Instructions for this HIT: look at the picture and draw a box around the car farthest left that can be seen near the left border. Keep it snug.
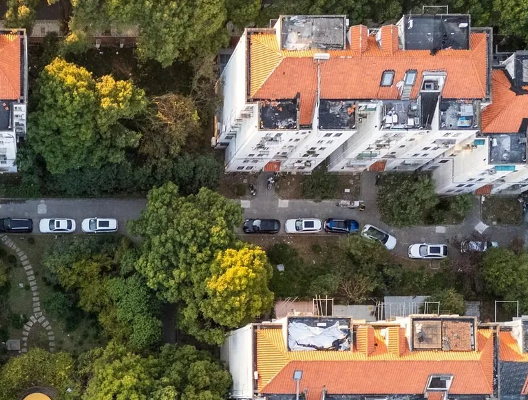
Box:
[0,217,32,234]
